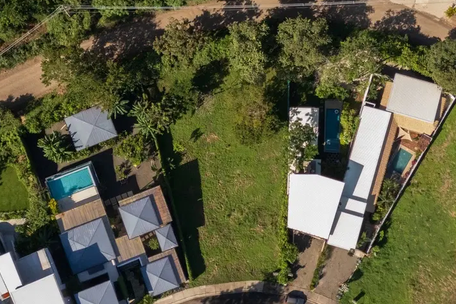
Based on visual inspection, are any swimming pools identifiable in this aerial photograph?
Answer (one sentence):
Yes, a swimming pool appears in the view.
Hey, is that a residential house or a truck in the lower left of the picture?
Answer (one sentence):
What appears in the lower left of the picture is a residential house.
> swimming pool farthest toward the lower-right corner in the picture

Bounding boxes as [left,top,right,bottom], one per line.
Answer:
[388,142,414,176]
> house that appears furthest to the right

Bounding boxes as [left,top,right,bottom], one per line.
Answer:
[380,73,447,136]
